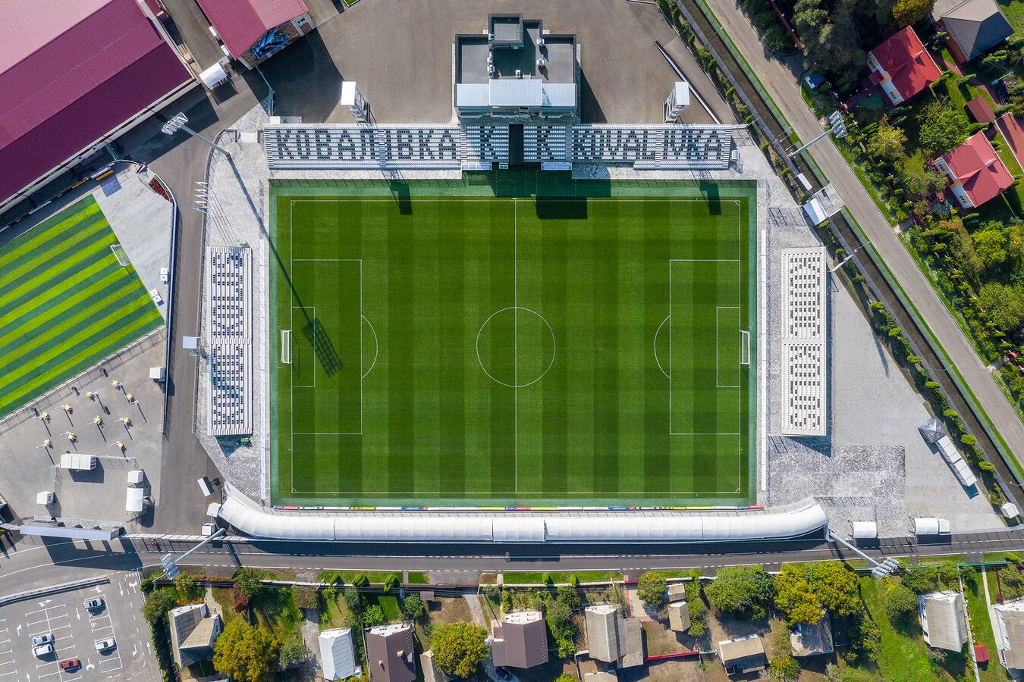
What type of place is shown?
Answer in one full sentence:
This looks like a sports ground.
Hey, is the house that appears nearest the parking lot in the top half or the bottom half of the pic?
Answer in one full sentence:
The house that appears nearest the parking lot sits in the bottom half of the picture.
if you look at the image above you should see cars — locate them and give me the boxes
[31,635,52,647]
[82,599,103,611]
[58,660,79,672]
[94,640,115,652]
[30,645,53,658]
[493,669,513,682]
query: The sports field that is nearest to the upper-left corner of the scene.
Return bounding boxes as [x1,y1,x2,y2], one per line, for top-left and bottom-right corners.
[0,195,164,416]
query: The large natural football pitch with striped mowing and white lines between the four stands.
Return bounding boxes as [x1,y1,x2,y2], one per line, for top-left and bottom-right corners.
[269,169,757,507]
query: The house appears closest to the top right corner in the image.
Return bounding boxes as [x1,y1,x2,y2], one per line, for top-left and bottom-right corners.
[938,0,1015,66]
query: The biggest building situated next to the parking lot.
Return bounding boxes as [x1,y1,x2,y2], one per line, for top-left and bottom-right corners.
[168,604,207,668]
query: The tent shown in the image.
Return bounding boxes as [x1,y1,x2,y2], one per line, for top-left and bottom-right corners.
[915,417,946,443]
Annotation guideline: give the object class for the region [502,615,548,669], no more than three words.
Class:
house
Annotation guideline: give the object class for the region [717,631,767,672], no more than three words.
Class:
shed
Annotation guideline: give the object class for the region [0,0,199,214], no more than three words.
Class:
warehouse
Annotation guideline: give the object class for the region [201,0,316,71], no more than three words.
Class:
building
